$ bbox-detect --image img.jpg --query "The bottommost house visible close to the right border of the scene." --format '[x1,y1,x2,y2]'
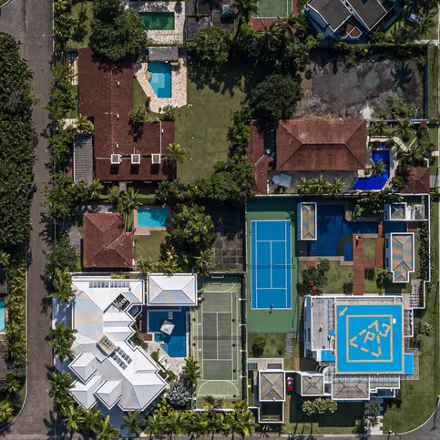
[297,295,419,400]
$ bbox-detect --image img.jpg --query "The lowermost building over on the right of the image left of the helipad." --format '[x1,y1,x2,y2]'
[245,357,285,402]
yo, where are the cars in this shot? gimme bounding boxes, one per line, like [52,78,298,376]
[405,13,421,22]
[286,376,295,392]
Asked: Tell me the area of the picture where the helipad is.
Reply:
bottom right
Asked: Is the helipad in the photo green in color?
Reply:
No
